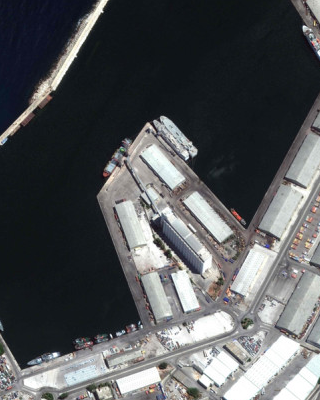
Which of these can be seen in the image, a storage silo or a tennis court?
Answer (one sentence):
The image shows a storage silo.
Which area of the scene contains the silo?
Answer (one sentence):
The silo is located in the center region of the scene.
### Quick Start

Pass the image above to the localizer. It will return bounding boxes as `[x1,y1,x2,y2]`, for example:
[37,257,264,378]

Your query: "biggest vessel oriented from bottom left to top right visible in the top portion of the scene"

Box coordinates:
[104,137,133,177]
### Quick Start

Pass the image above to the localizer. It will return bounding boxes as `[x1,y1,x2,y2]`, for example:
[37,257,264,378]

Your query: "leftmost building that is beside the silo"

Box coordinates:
[116,200,146,252]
